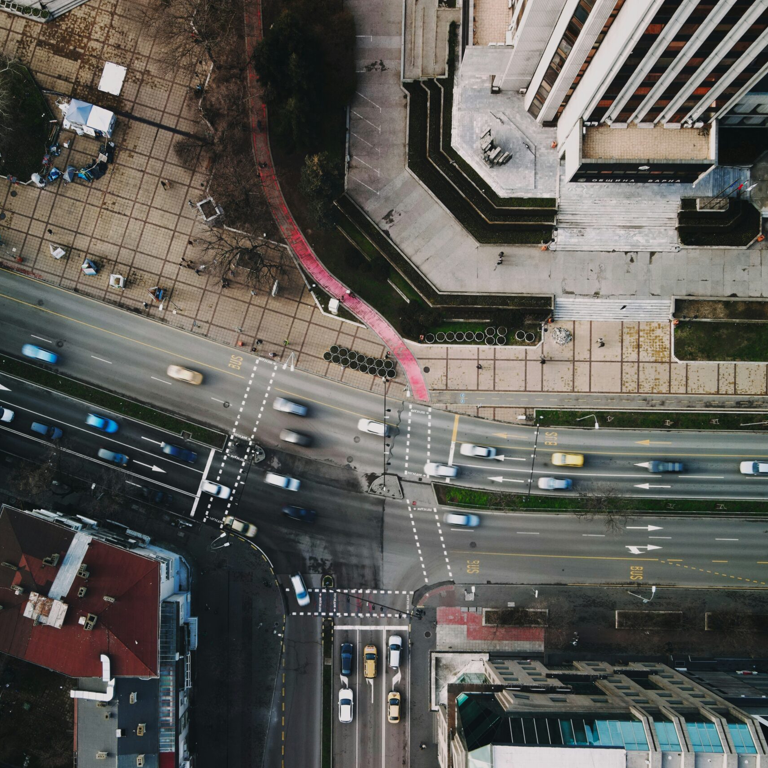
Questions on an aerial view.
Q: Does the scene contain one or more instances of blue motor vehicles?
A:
Yes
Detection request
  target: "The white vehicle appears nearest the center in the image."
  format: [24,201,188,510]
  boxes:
[355,418,392,436]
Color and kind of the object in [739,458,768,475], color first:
white car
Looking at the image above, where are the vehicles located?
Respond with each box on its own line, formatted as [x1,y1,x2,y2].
[537,475,573,492]
[95,445,133,468]
[223,516,258,537]
[445,511,477,528]
[271,396,310,418]
[25,345,57,366]
[139,483,176,504]
[28,419,65,441]
[363,643,378,680]
[461,441,494,458]
[198,477,232,500]
[337,687,355,724]
[551,450,584,467]
[355,418,392,436]
[739,458,768,475]
[158,439,198,464]
[86,412,119,434]
[425,462,458,477]
[386,634,403,670]
[386,689,402,725]
[262,471,301,491]
[0,407,16,423]
[168,365,204,387]
[646,456,685,473]
[279,428,312,447]
[288,572,310,605]
[338,642,355,678]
